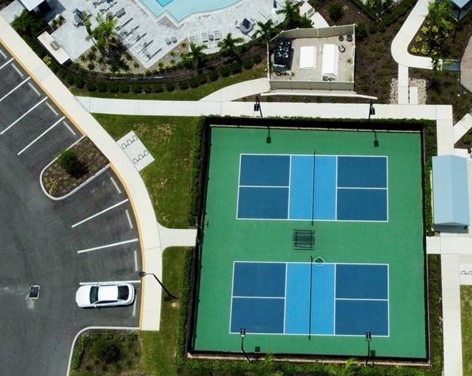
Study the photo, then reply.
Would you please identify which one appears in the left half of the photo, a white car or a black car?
white car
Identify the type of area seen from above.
sports ground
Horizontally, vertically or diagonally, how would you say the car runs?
horizontally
